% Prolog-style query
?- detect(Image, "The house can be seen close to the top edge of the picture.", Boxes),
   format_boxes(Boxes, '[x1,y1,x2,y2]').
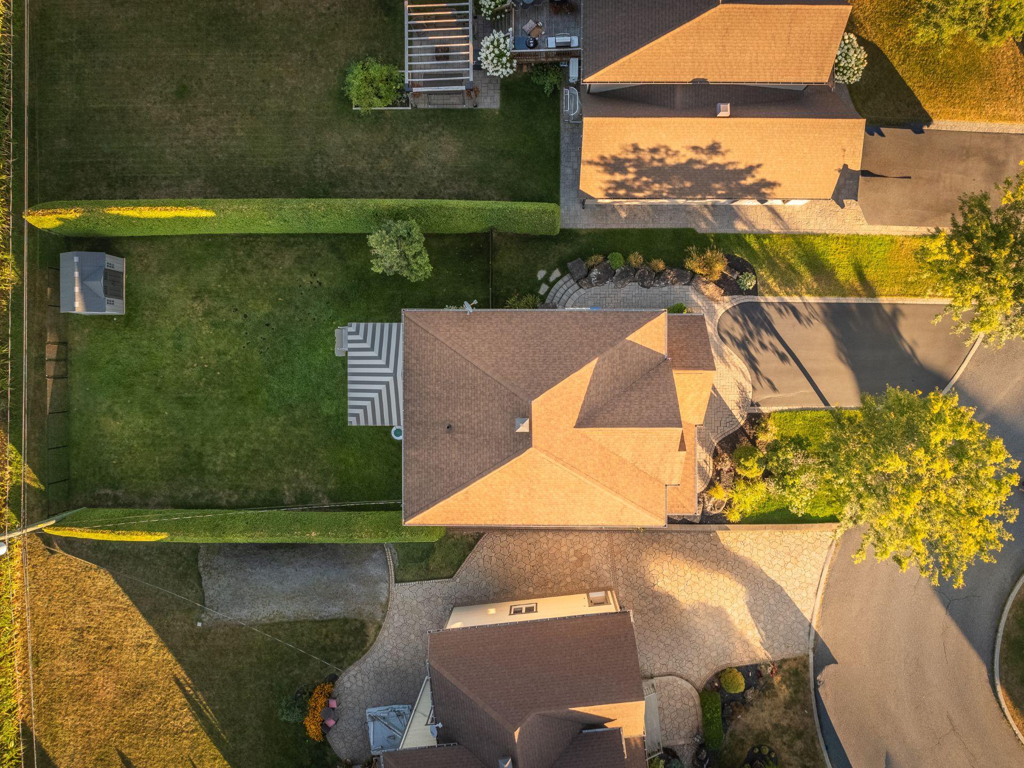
[579,0,864,203]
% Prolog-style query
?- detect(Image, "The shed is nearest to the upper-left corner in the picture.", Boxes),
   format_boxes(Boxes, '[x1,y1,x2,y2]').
[56,251,126,313]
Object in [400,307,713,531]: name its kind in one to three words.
house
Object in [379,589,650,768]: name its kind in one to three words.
house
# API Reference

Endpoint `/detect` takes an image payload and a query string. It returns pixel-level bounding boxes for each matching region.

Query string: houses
[579,0,864,203]
[400,307,713,531]
[379,589,650,768]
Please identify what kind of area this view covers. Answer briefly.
residential area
